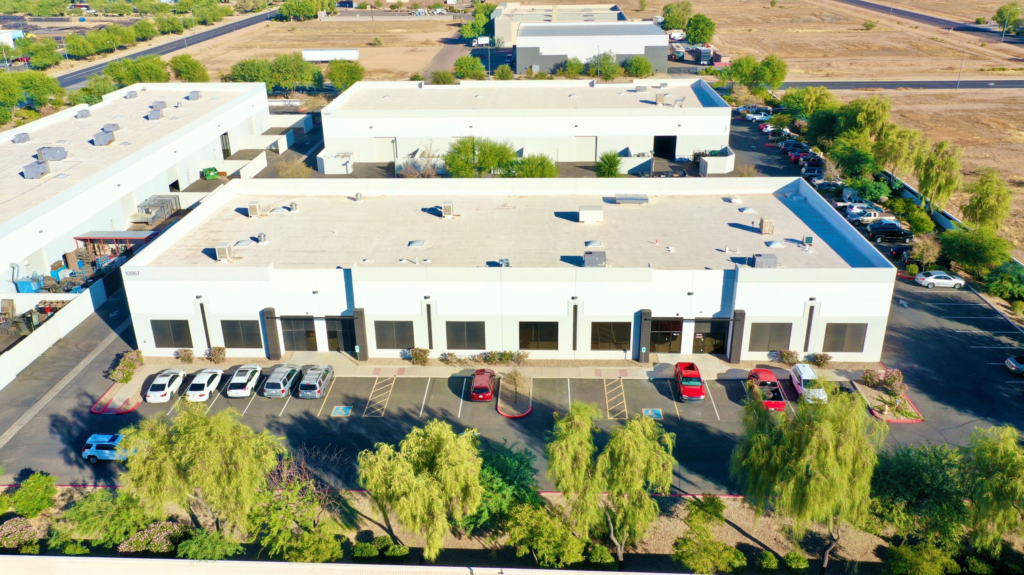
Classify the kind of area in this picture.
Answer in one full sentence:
This image shows an industrial area.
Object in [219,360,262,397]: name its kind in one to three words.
car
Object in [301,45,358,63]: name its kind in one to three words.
trailer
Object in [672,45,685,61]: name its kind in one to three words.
vehicle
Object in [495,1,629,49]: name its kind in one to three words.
building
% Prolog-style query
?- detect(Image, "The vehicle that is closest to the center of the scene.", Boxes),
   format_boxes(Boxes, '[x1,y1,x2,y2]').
[468,361,499,398]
